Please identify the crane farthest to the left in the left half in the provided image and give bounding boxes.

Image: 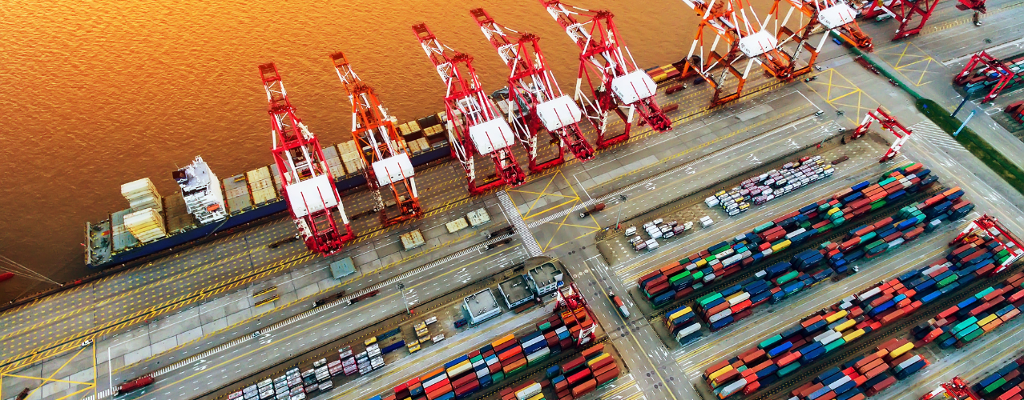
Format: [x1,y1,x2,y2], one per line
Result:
[257,61,360,258]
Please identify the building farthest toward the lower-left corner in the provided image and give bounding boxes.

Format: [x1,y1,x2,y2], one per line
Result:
[464,289,499,325]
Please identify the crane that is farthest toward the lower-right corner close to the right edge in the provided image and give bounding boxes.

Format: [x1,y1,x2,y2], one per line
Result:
[918,373,983,400]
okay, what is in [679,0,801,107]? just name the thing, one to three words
container crane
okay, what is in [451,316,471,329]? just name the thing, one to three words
vehicle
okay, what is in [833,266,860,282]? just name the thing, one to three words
vehicle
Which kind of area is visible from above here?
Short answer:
port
